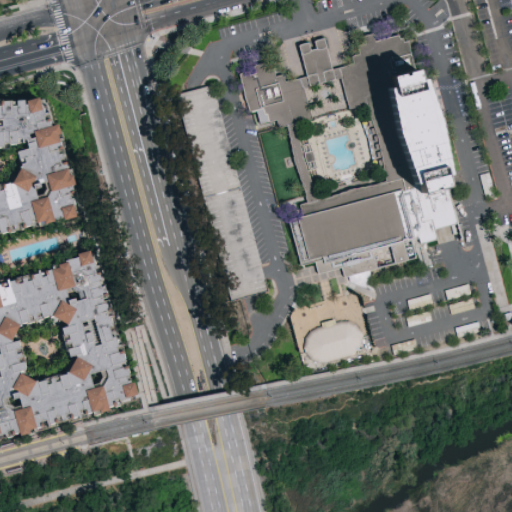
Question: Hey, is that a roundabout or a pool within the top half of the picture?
pool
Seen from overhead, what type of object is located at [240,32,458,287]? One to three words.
building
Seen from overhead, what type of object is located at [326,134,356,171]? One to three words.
swimming pool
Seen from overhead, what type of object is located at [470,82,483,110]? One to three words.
vehicle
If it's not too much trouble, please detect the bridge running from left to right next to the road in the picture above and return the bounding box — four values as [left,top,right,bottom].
[137,384,272,432]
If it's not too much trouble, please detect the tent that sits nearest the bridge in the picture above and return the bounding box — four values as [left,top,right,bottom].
[304,320,364,362]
